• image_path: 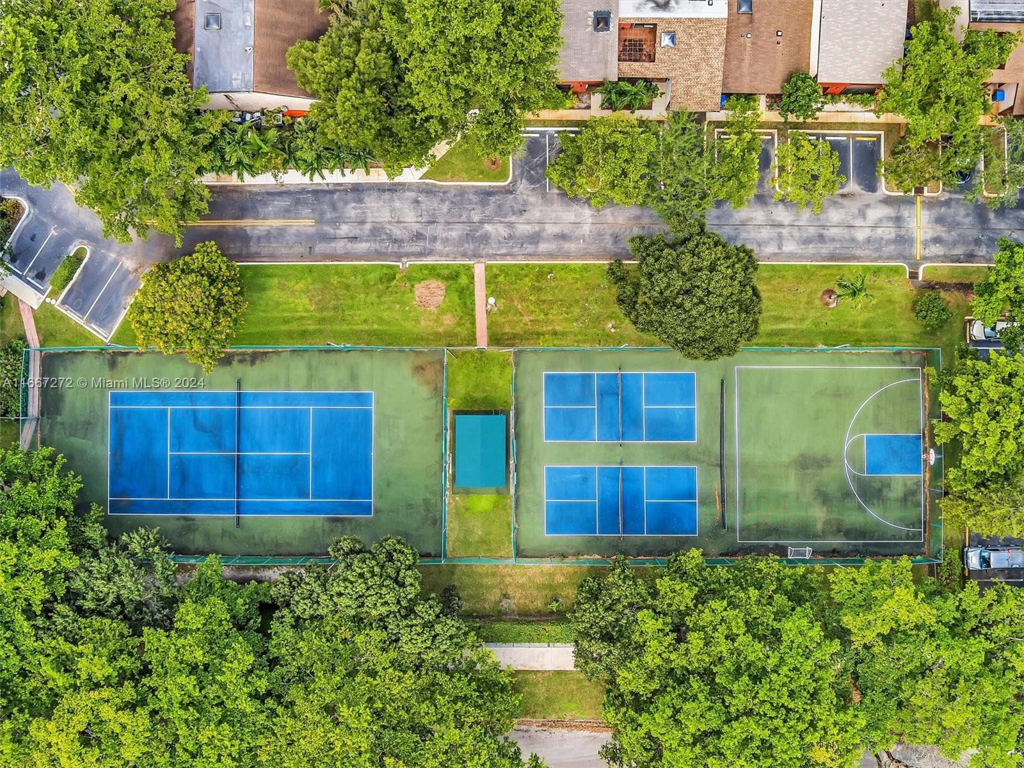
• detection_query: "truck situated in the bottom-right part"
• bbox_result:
[967,546,1024,573]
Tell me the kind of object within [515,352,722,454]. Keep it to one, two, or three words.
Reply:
sports court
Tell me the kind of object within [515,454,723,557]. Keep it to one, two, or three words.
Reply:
sports court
